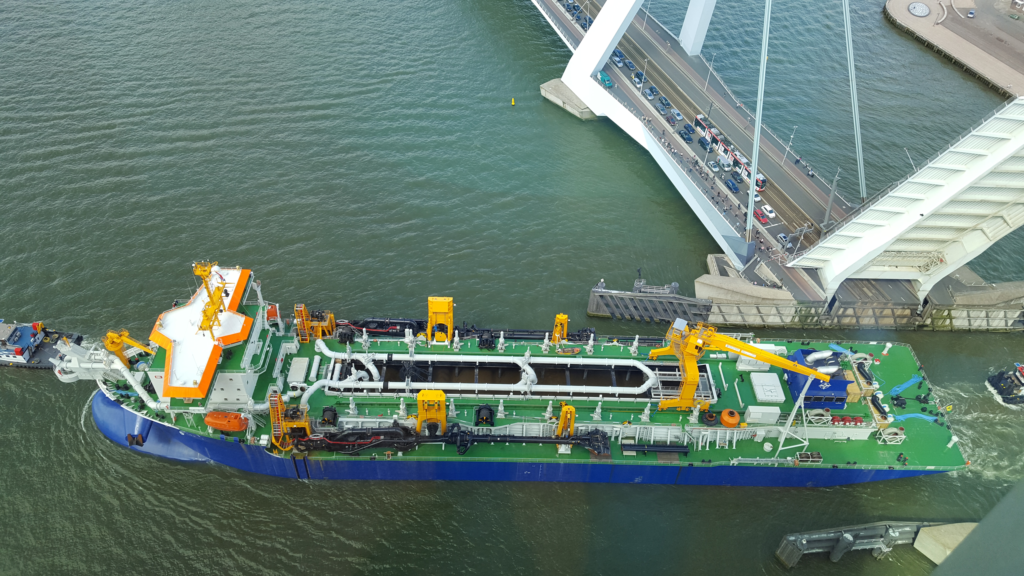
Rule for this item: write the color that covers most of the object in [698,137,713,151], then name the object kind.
blue car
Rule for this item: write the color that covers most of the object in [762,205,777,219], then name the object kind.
white car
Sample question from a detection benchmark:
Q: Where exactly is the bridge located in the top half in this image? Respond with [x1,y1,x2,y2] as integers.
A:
[519,0,860,269]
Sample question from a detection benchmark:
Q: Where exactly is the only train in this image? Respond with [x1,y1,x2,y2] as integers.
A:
[698,116,770,192]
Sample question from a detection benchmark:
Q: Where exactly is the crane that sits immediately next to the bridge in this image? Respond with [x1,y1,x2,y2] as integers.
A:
[639,307,830,417]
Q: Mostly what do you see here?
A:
water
